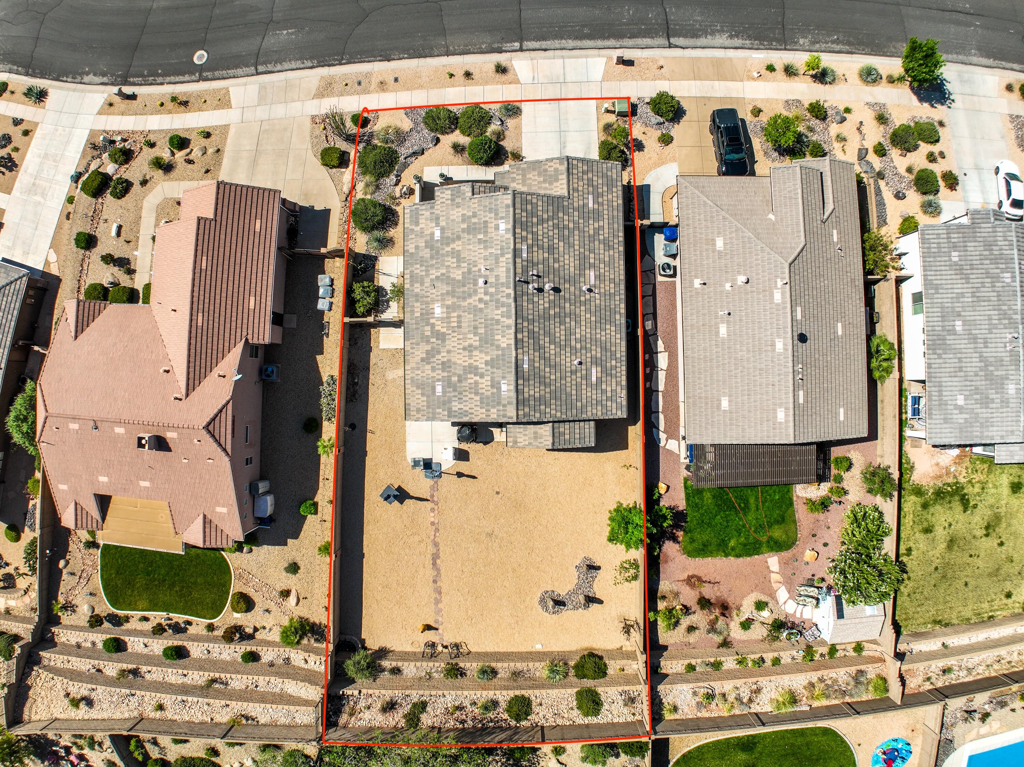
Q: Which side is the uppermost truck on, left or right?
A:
right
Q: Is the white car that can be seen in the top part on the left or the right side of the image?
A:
right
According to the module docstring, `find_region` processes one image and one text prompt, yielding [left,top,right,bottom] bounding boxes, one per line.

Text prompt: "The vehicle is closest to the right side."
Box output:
[989,158,1024,224]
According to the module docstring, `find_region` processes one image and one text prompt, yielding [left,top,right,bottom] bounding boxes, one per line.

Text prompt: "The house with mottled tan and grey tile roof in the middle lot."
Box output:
[402,155,627,450]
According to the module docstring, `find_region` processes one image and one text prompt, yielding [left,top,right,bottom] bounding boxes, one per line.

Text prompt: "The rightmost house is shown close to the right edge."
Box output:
[900,208,1024,464]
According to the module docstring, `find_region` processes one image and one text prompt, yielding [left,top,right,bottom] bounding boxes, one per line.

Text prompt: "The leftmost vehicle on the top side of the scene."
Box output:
[707,107,751,176]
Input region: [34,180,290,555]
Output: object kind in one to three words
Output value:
house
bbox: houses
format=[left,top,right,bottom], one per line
[900,208,1024,464]
[34,180,290,555]
[402,155,627,450]
[673,157,868,445]
[0,260,51,473]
